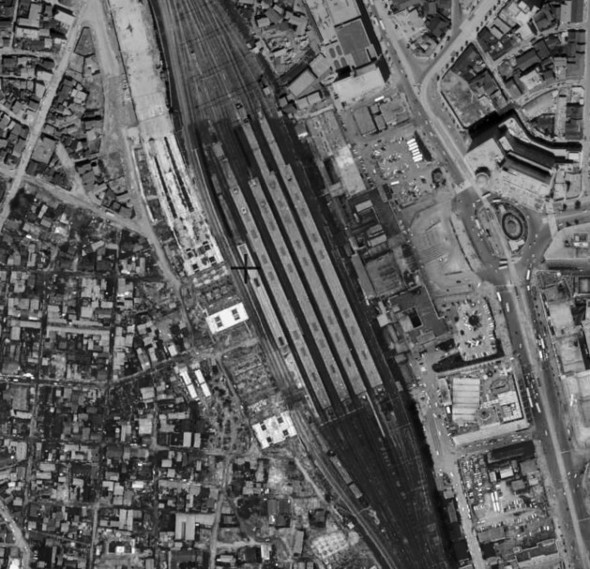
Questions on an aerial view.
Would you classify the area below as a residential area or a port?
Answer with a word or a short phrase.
residential area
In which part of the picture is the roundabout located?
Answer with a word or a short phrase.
right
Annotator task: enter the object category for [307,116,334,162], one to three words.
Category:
building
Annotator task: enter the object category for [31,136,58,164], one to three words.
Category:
house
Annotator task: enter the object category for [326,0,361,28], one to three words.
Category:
building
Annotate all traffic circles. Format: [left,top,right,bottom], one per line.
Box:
[478,202,529,259]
